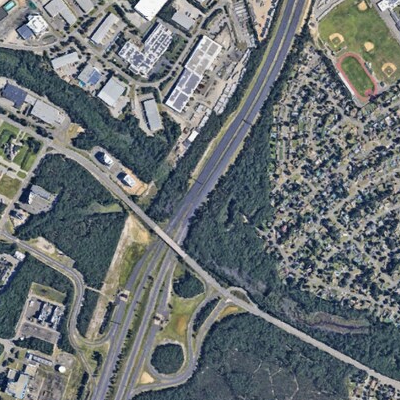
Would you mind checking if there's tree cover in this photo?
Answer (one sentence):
Yes, tree cover shows up in the scene.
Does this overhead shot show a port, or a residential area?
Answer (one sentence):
This looks like a residential area.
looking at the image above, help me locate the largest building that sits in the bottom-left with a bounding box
[6,375,29,399]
